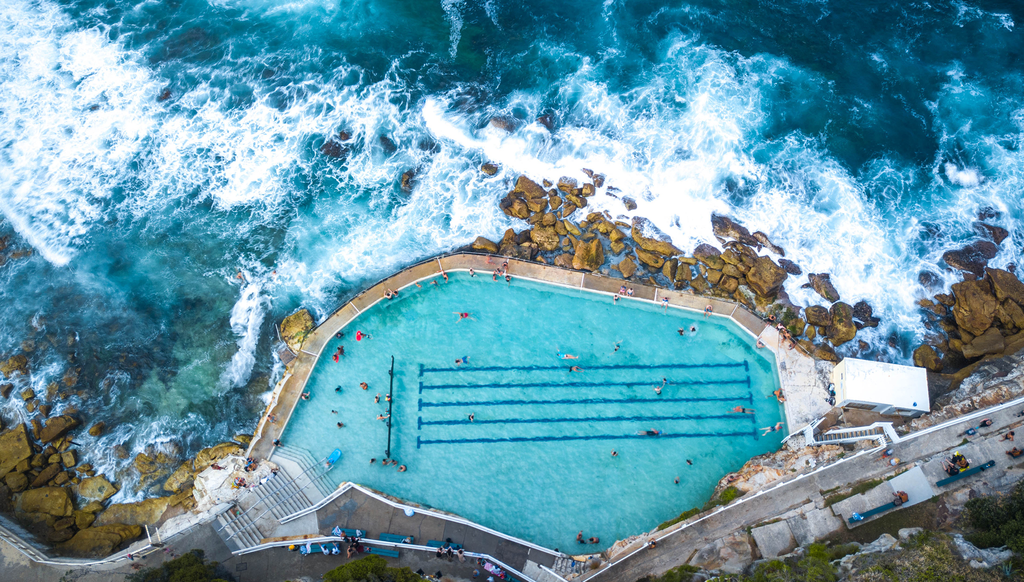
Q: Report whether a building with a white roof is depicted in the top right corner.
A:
No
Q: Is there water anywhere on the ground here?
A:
Yes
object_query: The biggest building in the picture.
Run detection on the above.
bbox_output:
[831,358,930,418]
